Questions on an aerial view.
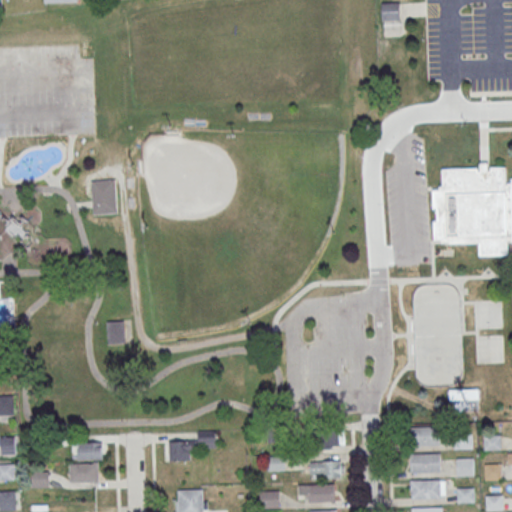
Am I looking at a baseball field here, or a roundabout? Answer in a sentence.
This aerial view contains a baseball field.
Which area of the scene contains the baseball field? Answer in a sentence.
The baseball field is located in the center region of the scene.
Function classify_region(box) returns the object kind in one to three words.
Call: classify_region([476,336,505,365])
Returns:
basketball court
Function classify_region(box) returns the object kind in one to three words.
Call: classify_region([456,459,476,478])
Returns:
building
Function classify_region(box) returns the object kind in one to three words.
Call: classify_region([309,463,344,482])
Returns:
house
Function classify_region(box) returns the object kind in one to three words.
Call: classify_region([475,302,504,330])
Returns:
basketball court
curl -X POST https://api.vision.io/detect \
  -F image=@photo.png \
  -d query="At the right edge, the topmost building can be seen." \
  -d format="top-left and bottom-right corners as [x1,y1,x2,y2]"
[432,161,512,258]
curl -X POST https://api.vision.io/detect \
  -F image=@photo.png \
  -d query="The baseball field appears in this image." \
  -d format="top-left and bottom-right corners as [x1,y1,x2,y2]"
[140,132,346,340]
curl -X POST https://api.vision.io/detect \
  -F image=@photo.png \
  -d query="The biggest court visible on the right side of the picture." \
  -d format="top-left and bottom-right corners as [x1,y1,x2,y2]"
[414,285,464,386]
